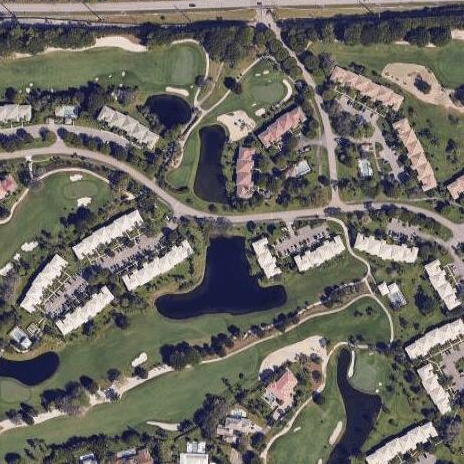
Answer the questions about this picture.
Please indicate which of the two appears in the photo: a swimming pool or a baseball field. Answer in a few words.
swimming pool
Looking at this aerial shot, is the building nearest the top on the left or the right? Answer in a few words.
right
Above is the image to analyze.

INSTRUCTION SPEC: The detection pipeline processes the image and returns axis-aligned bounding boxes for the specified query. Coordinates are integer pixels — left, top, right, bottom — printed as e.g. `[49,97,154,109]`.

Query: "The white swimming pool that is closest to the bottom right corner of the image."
[380,285,406,305]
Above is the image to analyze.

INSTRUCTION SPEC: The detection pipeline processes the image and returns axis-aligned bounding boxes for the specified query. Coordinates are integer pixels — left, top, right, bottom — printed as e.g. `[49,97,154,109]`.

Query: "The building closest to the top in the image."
[330,67,405,111]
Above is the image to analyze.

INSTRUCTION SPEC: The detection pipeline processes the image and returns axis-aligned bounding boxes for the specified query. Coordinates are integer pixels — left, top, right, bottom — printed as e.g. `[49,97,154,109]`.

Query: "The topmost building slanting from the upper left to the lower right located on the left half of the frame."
[97,105,159,149]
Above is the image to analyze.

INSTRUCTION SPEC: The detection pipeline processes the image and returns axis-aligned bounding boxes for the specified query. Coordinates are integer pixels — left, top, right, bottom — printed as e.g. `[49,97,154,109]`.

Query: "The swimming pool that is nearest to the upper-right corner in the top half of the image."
[358,152,373,178]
